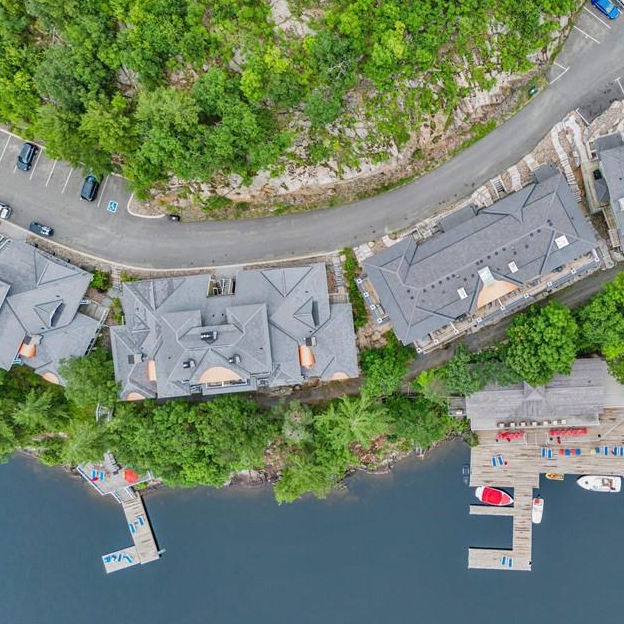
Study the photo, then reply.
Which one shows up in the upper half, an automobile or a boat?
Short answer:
automobile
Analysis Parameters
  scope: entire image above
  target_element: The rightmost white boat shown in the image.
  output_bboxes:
[577,477,624,493]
